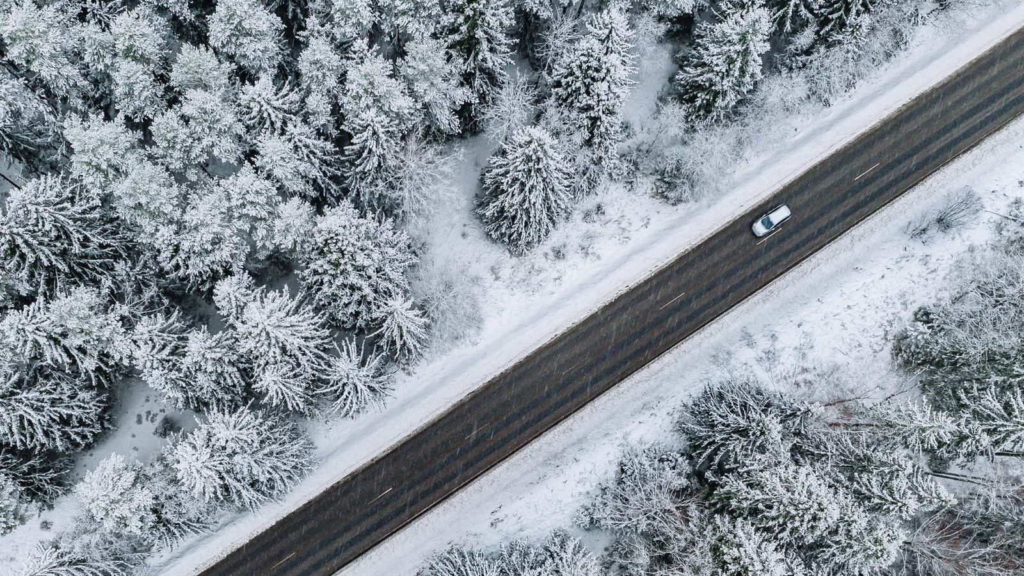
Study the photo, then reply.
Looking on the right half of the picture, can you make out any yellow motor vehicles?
No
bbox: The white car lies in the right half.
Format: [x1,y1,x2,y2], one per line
[751,200,799,237]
